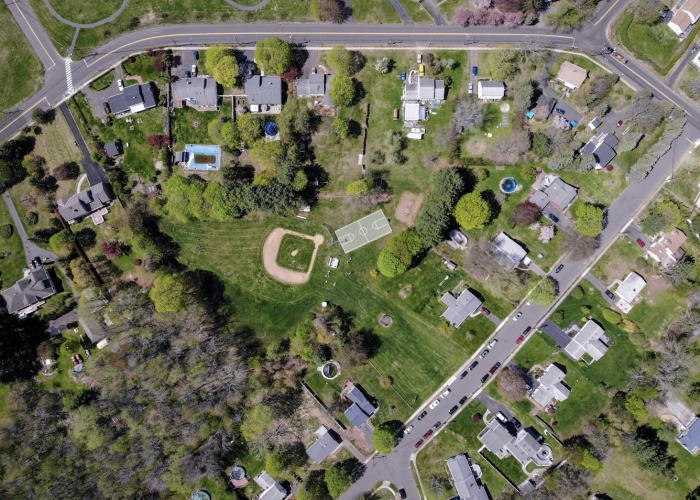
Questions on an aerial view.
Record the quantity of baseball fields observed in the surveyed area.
one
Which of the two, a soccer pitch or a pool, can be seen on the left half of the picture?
pool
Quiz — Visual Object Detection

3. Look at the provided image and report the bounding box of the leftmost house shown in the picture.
[1,267,60,315]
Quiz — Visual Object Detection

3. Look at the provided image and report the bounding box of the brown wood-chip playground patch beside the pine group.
[396,191,425,226]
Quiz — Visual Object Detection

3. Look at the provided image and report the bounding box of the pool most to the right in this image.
[500,176,522,193]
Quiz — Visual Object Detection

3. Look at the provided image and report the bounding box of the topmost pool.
[265,121,280,142]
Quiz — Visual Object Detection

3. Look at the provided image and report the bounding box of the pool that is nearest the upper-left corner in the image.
[185,144,221,170]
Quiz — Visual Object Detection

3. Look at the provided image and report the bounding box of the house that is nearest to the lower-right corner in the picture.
[660,412,700,458]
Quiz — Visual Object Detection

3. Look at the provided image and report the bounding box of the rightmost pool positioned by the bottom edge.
[230,458,250,488]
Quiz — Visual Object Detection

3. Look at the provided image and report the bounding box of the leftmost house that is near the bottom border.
[254,469,293,500]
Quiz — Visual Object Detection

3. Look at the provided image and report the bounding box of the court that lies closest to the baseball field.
[335,209,392,253]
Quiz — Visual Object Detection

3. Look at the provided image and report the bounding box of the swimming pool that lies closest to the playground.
[445,227,470,250]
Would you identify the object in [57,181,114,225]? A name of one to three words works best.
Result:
house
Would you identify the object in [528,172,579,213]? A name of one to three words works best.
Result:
house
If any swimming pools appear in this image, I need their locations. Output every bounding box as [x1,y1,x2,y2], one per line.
[317,360,340,381]
[185,144,221,170]
[500,176,522,193]
[191,489,210,500]
[265,121,280,142]
[230,458,250,488]
[445,227,470,250]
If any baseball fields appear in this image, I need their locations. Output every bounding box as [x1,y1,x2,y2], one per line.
[262,229,324,285]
